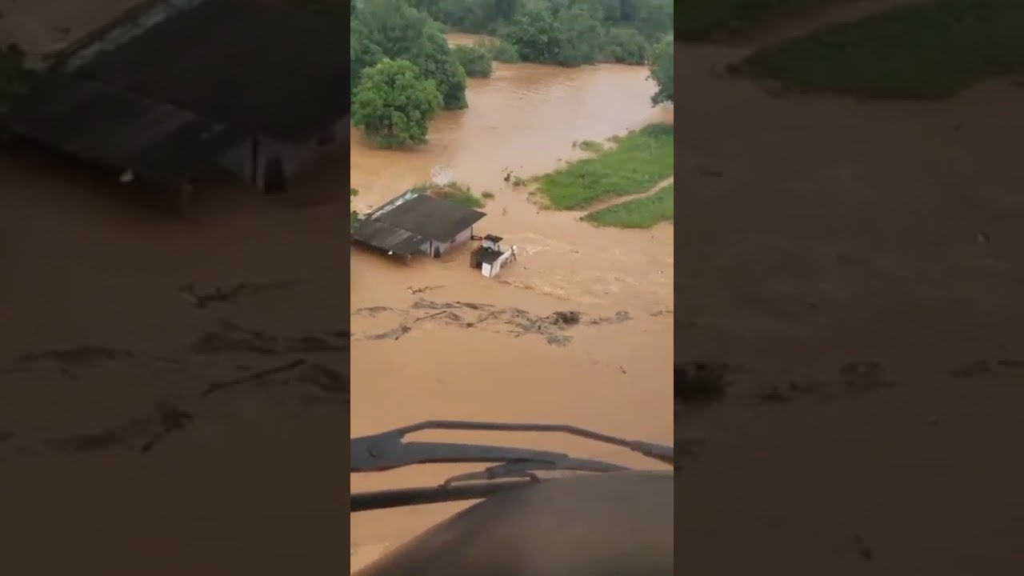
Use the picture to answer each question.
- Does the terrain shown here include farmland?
No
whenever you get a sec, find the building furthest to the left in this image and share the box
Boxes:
[350,194,486,261]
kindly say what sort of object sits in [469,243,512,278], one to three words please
shed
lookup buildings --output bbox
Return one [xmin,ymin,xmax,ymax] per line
[350,194,486,261]
[469,243,512,278]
